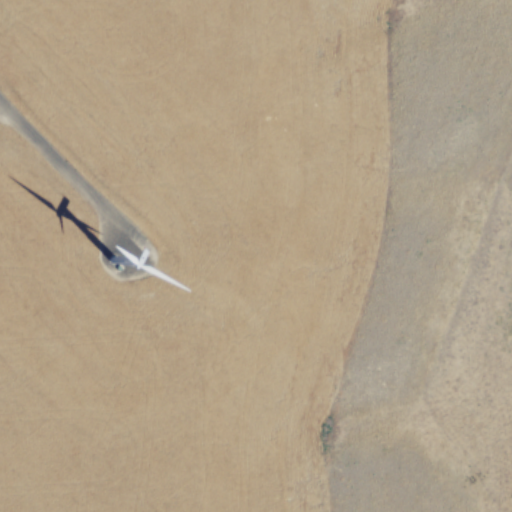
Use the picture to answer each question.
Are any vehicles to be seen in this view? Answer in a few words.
No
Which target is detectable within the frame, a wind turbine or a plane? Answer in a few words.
wind turbine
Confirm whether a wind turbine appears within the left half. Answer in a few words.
Yes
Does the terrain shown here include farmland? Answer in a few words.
Yes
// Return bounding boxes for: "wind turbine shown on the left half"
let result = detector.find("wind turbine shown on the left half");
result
[108,244,193,292]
